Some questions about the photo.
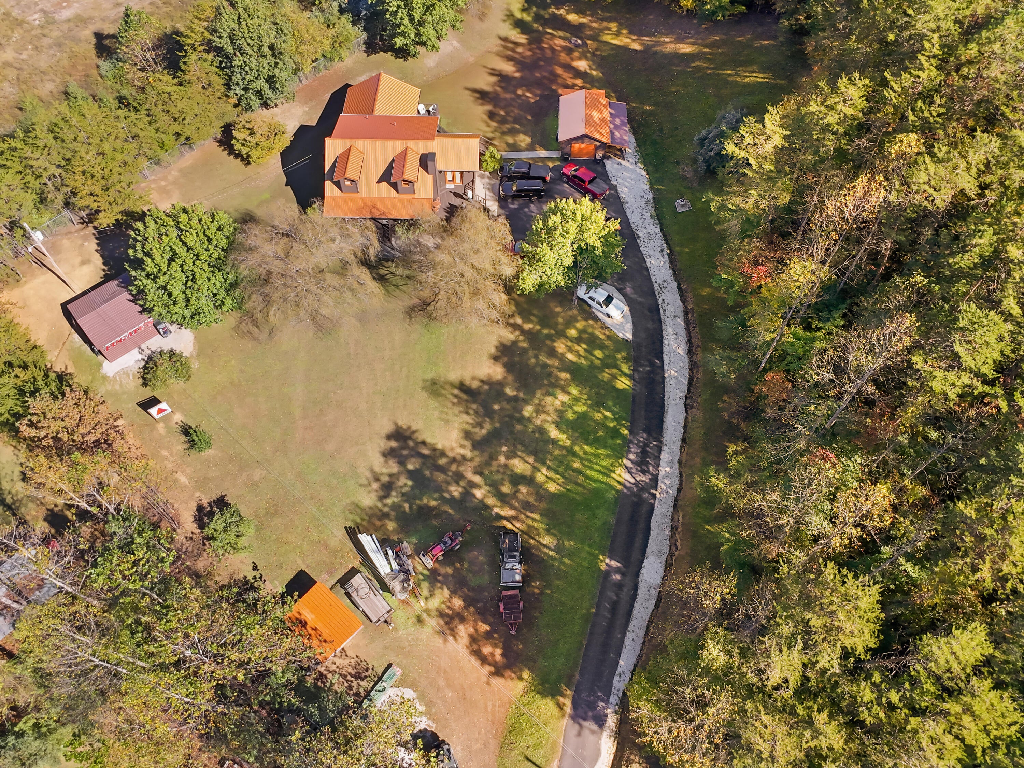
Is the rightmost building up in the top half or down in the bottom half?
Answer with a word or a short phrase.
top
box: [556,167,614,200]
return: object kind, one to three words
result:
truck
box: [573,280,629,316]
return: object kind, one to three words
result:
car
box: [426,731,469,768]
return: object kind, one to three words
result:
truck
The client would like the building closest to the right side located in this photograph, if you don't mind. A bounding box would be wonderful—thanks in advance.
[558,87,629,162]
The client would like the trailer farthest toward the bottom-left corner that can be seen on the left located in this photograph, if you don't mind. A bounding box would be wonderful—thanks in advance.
[344,572,395,627]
